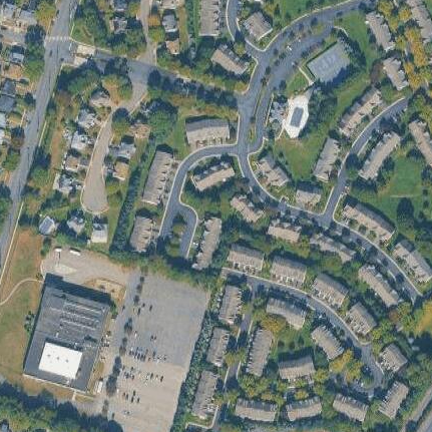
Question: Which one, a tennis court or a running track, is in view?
tennis court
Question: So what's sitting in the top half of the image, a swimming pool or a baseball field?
swimming pool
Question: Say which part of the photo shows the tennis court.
top right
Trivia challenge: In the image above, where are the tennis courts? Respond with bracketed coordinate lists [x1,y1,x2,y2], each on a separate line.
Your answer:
[306,42,352,86]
